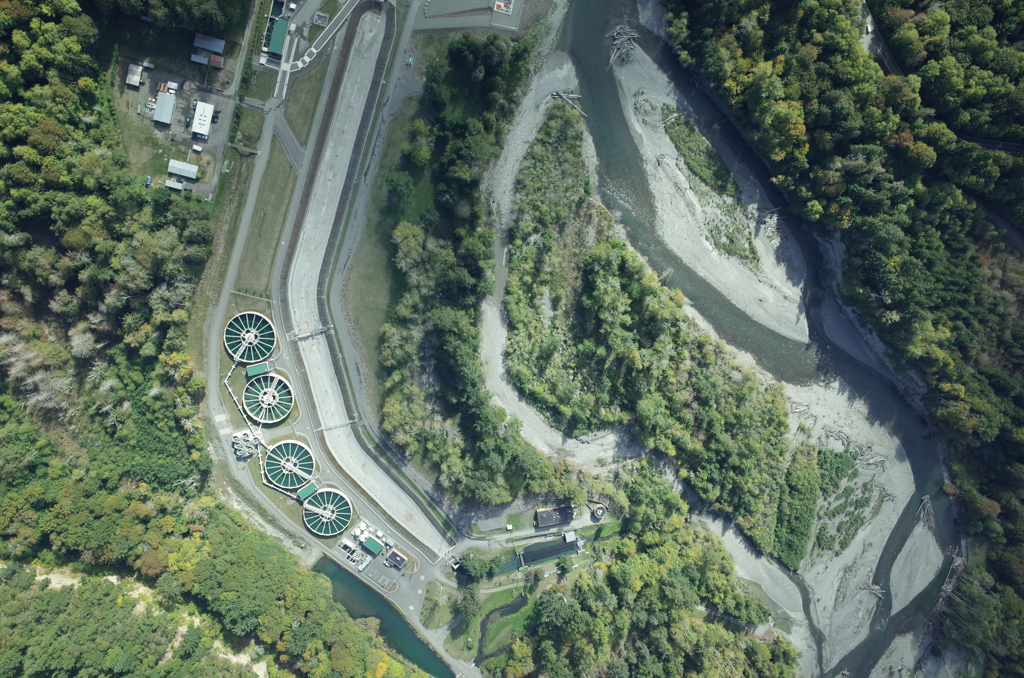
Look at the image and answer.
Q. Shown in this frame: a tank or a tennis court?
tank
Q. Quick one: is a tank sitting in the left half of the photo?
Yes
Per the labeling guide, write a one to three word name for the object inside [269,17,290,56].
building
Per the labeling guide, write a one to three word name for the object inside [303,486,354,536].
storage tank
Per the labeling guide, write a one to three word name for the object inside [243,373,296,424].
storage tank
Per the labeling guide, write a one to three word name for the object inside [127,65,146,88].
shed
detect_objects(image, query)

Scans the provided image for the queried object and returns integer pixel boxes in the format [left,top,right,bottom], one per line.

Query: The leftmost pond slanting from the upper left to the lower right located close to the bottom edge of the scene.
[318,558,453,678]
